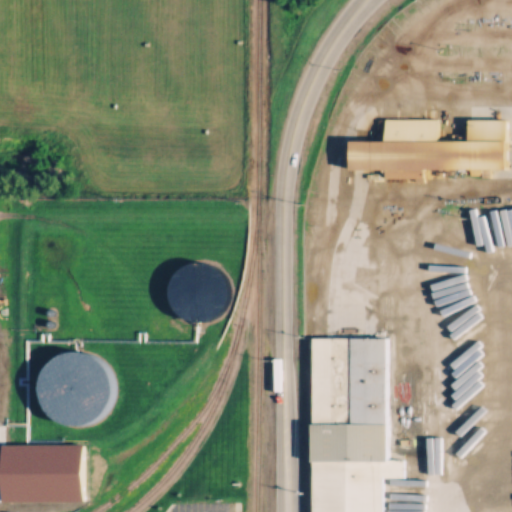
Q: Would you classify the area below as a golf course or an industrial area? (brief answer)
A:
industrial area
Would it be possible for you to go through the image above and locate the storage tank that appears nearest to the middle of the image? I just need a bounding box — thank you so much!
[168,261,234,326]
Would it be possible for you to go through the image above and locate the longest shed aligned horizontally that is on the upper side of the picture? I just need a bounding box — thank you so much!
[347,119,508,183]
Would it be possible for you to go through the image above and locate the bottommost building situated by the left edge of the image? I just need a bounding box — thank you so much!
[0,444,88,503]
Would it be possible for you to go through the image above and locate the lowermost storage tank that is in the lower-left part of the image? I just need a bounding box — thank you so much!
[38,351,116,428]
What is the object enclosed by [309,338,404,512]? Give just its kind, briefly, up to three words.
building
